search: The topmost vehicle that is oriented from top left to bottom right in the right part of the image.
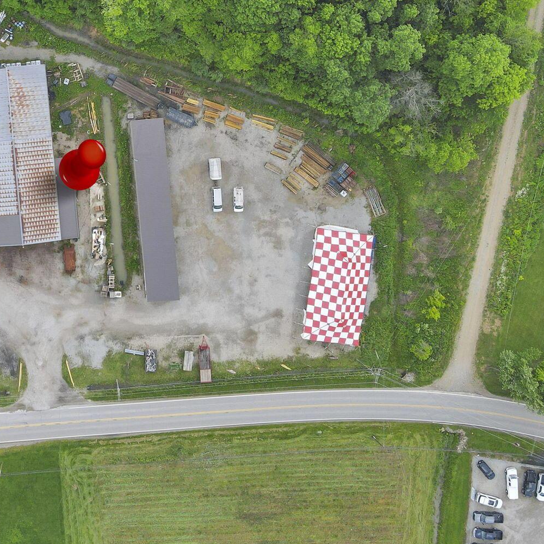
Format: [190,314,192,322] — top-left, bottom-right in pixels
[474,457,496,481]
